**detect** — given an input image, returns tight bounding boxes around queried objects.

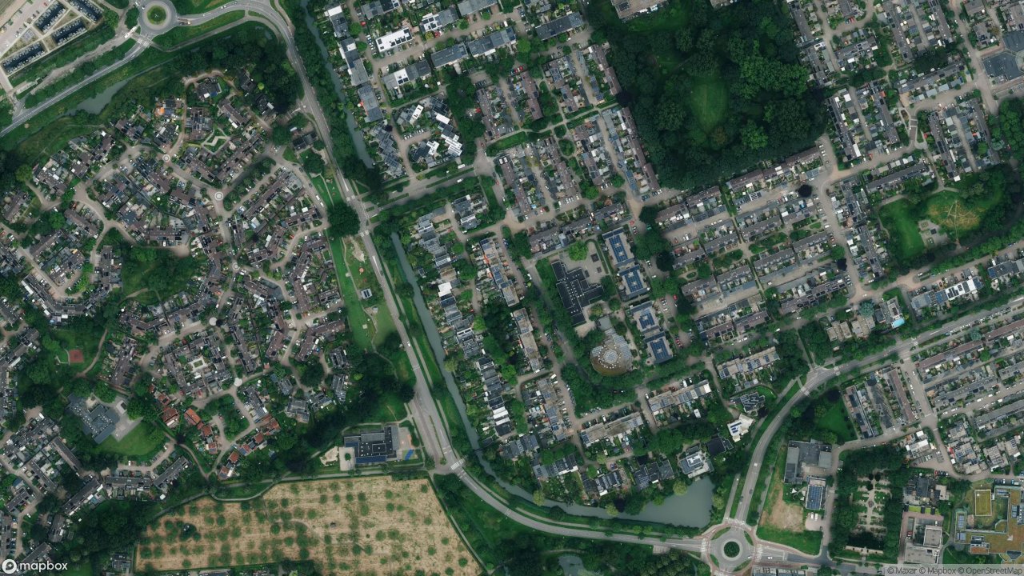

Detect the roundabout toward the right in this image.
[705,522,759,576]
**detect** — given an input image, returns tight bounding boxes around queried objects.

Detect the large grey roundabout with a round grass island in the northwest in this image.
[134,0,179,37]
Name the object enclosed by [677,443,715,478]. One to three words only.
house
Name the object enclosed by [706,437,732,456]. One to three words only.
house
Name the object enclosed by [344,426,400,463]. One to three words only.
building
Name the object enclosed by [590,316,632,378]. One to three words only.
building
